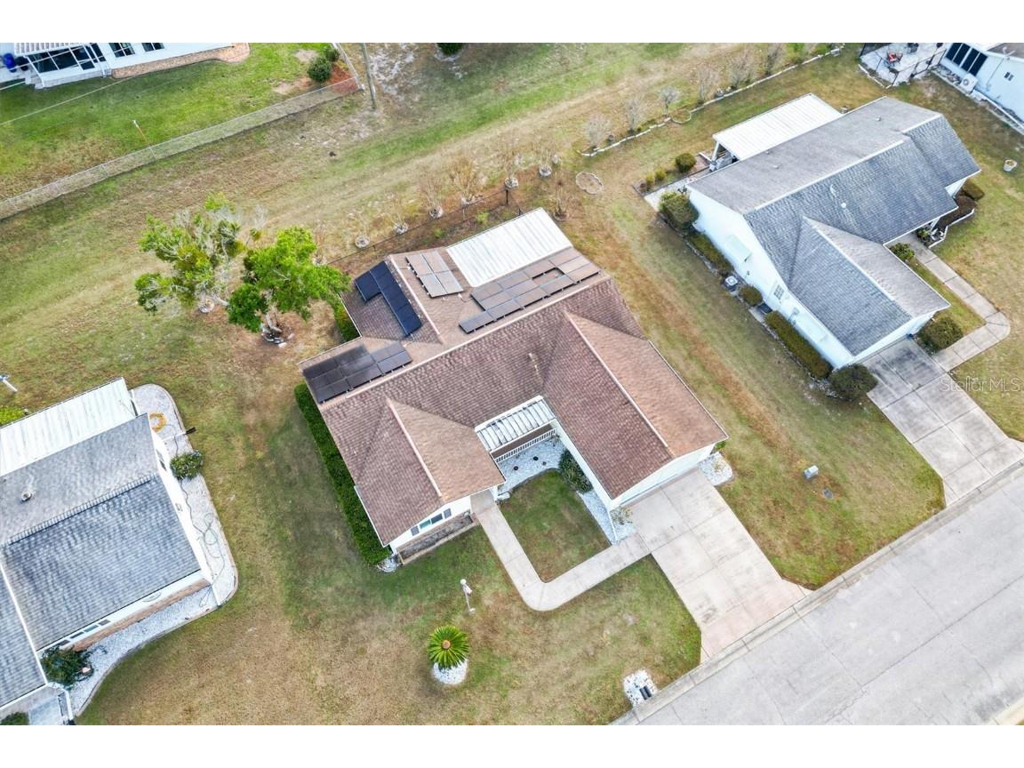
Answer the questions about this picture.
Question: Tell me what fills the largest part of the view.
grass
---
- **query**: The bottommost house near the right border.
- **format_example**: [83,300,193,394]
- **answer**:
[683,94,983,373]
